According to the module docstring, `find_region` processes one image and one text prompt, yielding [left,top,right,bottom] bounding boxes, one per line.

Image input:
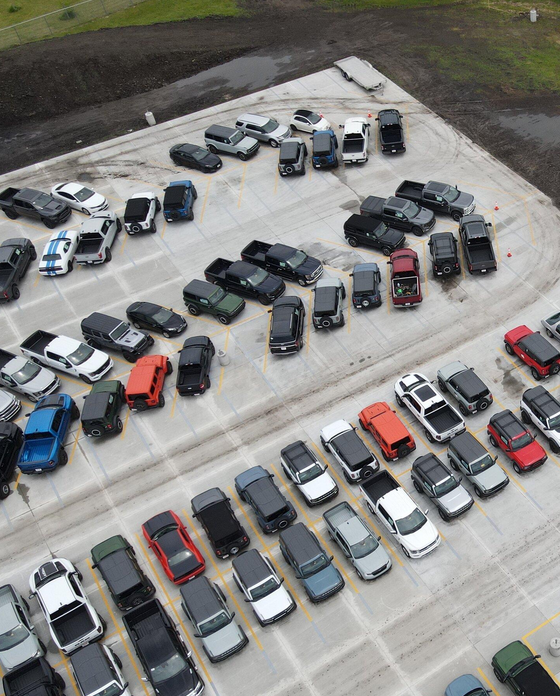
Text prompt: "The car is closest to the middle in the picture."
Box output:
[269,296,309,358]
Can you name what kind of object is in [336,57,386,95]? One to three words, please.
trailer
